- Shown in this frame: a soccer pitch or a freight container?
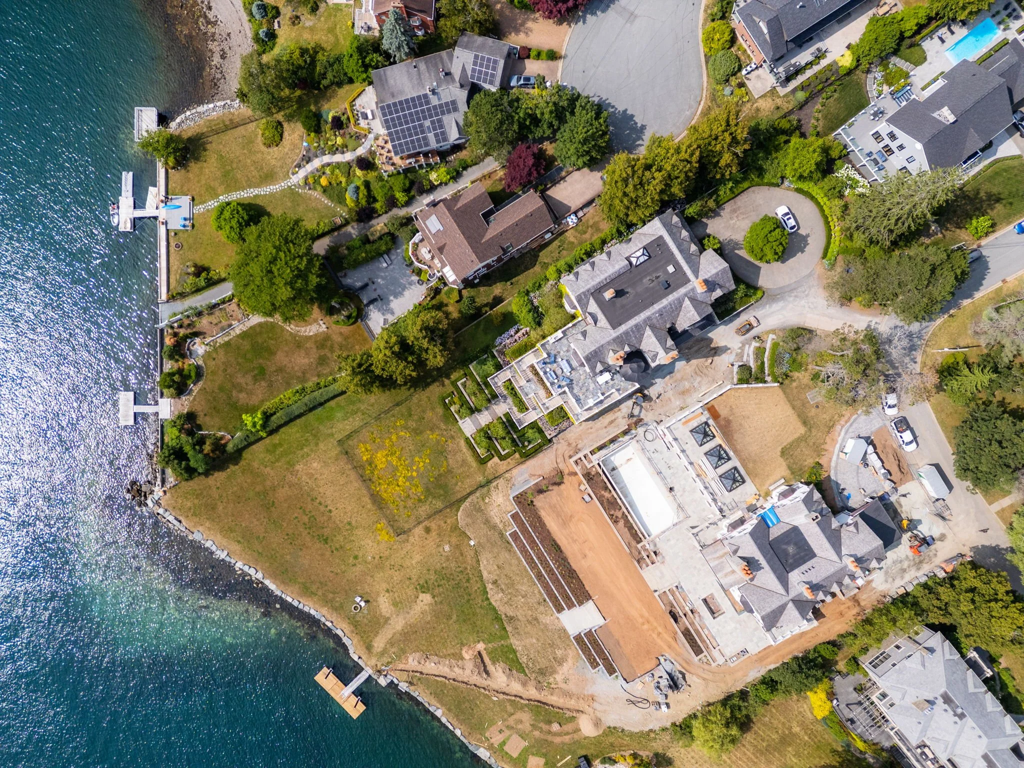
freight container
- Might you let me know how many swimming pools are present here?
two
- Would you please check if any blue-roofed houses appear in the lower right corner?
No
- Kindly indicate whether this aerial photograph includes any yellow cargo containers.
No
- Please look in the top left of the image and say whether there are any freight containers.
No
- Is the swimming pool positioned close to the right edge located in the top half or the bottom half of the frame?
top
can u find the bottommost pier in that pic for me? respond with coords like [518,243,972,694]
[314,665,370,719]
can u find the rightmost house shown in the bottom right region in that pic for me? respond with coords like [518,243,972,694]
[849,623,1024,768]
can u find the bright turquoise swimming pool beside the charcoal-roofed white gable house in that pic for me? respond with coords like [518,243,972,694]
[941,14,1005,67]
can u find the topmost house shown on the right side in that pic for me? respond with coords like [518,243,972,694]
[730,0,860,83]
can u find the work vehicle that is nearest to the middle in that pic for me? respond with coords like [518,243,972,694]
[629,388,650,421]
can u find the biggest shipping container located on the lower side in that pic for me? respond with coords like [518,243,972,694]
[911,462,949,498]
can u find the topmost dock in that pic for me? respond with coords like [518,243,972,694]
[131,104,159,141]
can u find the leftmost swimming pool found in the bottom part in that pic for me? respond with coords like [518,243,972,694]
[598,441,680,540]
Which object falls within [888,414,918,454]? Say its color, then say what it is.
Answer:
white truck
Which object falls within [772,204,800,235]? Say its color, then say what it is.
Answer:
white car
